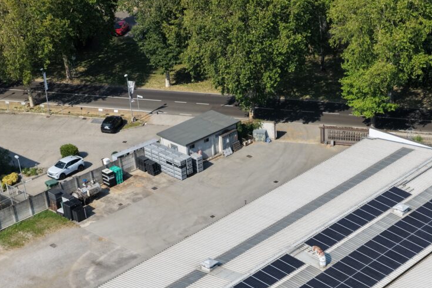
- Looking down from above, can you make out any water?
No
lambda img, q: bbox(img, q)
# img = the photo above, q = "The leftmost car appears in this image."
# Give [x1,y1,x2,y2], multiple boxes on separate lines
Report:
[46,153,86,179]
